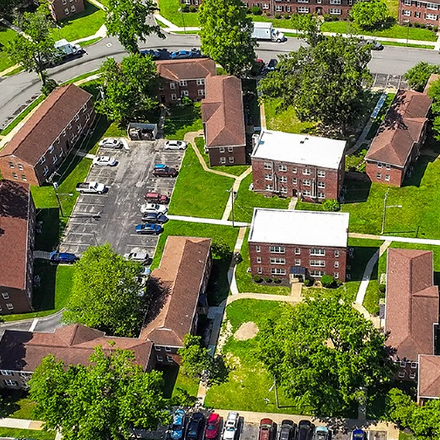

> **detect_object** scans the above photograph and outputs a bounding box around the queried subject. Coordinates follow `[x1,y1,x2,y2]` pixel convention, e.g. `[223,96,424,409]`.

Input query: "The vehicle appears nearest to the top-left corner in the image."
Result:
[52,42,84,59]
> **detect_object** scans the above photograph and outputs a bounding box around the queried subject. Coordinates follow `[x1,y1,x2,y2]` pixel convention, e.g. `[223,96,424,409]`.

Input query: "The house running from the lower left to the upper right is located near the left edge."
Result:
[0,84,94,186]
